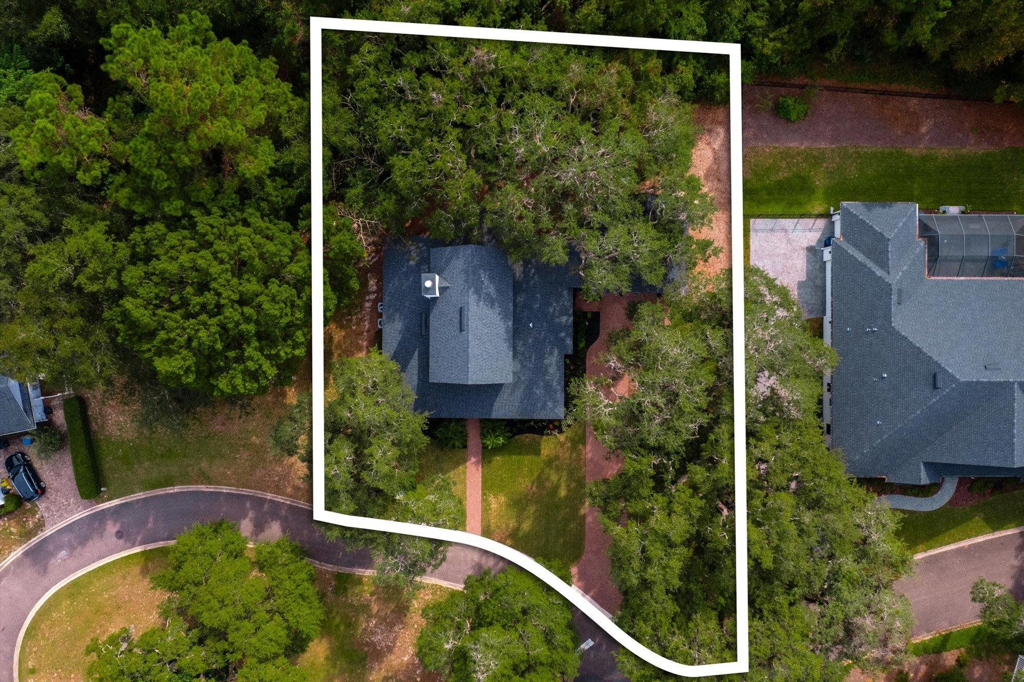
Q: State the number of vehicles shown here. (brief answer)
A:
1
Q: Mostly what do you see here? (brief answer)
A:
trees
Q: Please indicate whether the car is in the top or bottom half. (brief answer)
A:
bottom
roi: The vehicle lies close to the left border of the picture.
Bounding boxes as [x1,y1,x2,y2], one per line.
[8,450,46,504]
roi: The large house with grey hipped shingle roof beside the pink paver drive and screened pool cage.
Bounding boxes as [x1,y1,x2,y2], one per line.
[815,200,1024,484]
